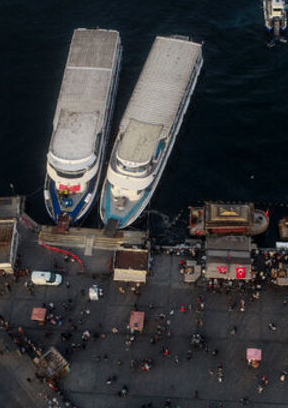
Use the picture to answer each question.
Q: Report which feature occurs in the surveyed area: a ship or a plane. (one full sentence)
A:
This aerial view contains a ship.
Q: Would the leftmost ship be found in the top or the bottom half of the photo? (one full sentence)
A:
It is in the top half that the leftmost ship appears.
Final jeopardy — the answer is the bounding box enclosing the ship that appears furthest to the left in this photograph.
[44,23,123,228]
